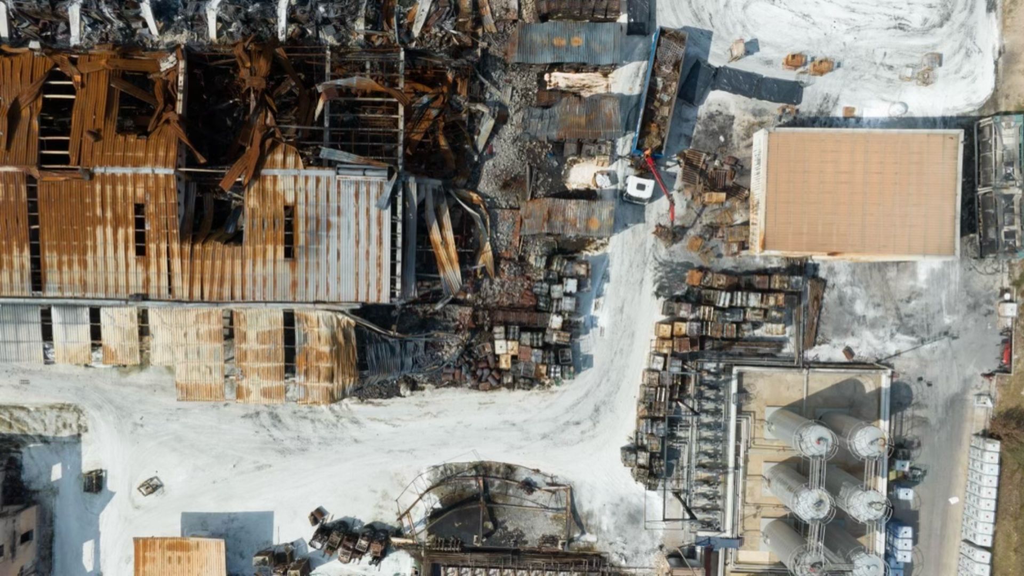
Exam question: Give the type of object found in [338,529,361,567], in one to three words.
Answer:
work vehicle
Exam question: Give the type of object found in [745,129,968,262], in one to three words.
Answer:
building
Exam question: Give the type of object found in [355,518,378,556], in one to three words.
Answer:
work vehicle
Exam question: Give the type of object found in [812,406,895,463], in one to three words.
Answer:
storage tank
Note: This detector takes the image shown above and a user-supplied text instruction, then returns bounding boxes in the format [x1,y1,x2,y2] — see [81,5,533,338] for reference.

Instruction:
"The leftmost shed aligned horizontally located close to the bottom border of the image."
[133,537,225,576]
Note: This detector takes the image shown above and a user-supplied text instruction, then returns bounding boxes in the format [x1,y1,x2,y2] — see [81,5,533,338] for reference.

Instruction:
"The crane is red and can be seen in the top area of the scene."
[638,147,679,230]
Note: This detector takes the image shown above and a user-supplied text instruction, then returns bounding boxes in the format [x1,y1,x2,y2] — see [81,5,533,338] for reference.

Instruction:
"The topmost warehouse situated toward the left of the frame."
[0,0,516,404]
